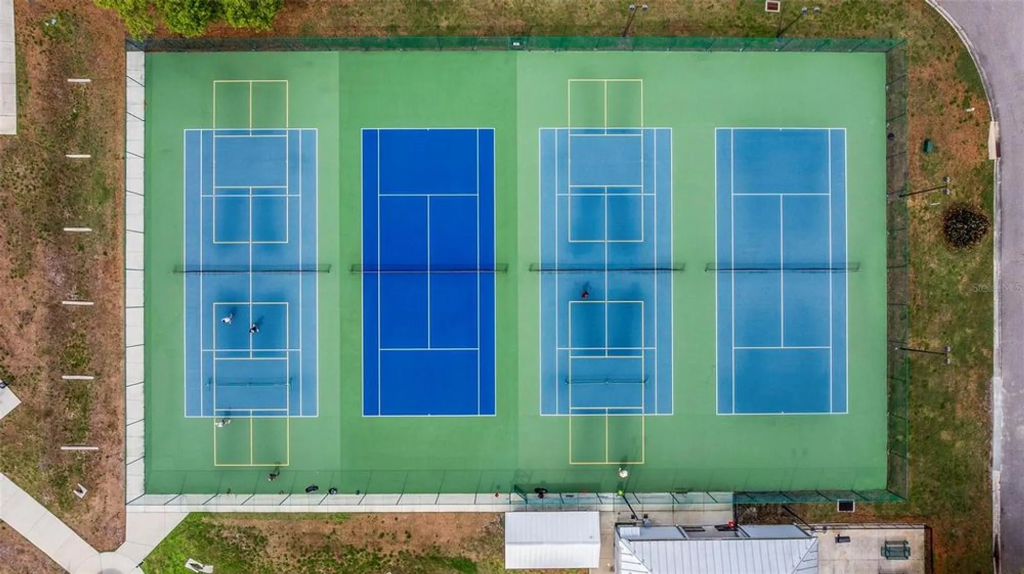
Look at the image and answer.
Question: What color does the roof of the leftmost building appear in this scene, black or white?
white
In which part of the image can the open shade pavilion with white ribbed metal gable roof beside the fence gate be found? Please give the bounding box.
[505,506,600,569]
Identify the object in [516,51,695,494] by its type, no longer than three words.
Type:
tennis court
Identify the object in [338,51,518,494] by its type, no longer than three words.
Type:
tennis court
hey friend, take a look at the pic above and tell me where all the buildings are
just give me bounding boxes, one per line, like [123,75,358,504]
[505,506,600,569]
[615,523,818,574]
